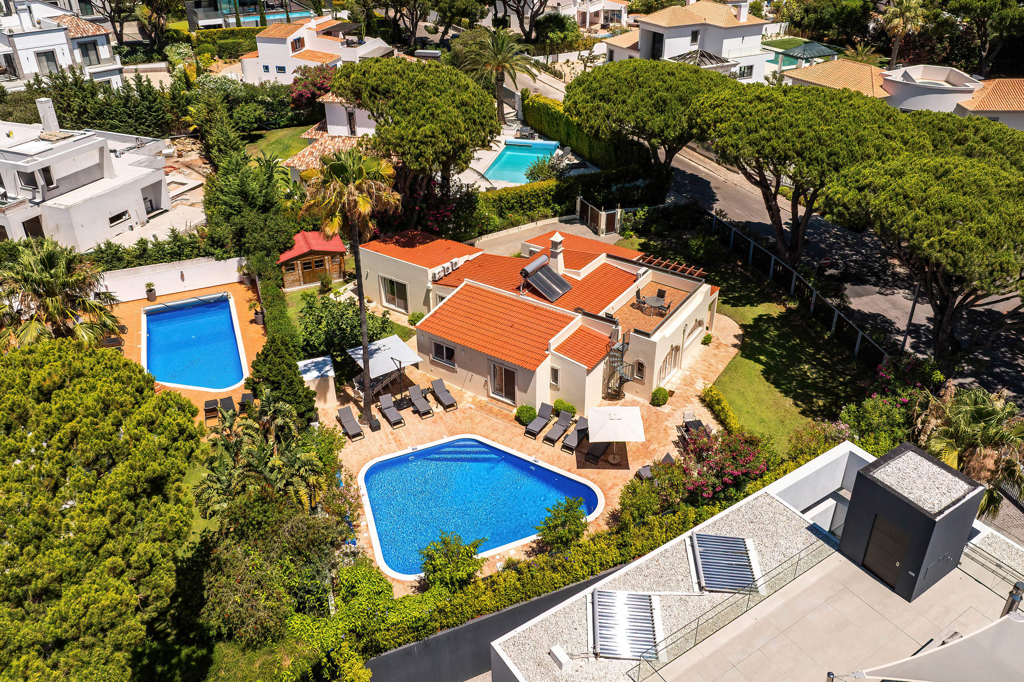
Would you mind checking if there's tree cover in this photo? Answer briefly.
Yes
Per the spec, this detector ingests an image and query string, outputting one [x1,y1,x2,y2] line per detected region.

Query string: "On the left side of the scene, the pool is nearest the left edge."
[141,297,247,390]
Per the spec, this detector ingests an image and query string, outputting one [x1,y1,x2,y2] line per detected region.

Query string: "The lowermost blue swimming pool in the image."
[357,428,603,576]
